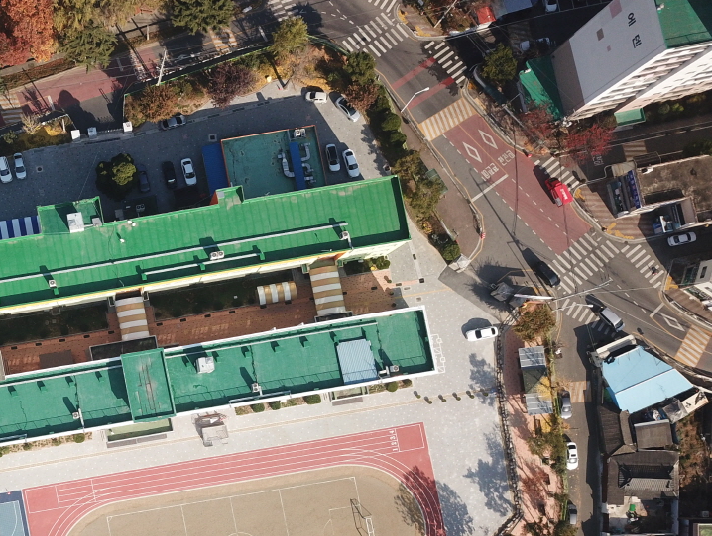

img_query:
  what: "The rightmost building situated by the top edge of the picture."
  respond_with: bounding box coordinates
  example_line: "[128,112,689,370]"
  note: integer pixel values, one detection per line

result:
[553,0,712,122]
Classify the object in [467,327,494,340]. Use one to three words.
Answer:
vehicle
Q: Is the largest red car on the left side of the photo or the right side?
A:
right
